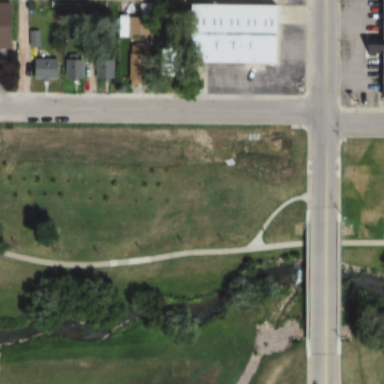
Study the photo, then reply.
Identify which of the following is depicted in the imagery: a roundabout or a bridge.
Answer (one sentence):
The one in the frame is a bridge.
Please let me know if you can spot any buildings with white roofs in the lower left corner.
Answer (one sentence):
No, there is no building with a white roof in the lower left corner.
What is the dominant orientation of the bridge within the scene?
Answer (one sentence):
The bridge has been laid out vertically relative to the frame.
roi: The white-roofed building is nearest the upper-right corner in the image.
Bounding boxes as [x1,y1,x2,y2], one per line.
[196,4,278,64]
